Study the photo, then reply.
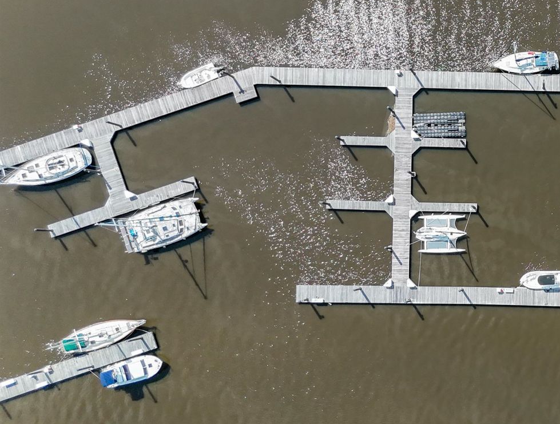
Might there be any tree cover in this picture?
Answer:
No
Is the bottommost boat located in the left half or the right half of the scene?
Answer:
left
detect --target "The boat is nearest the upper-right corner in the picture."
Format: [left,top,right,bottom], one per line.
[493,42,560,73]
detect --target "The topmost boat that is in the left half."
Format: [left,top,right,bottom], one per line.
[177,63,226,86]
